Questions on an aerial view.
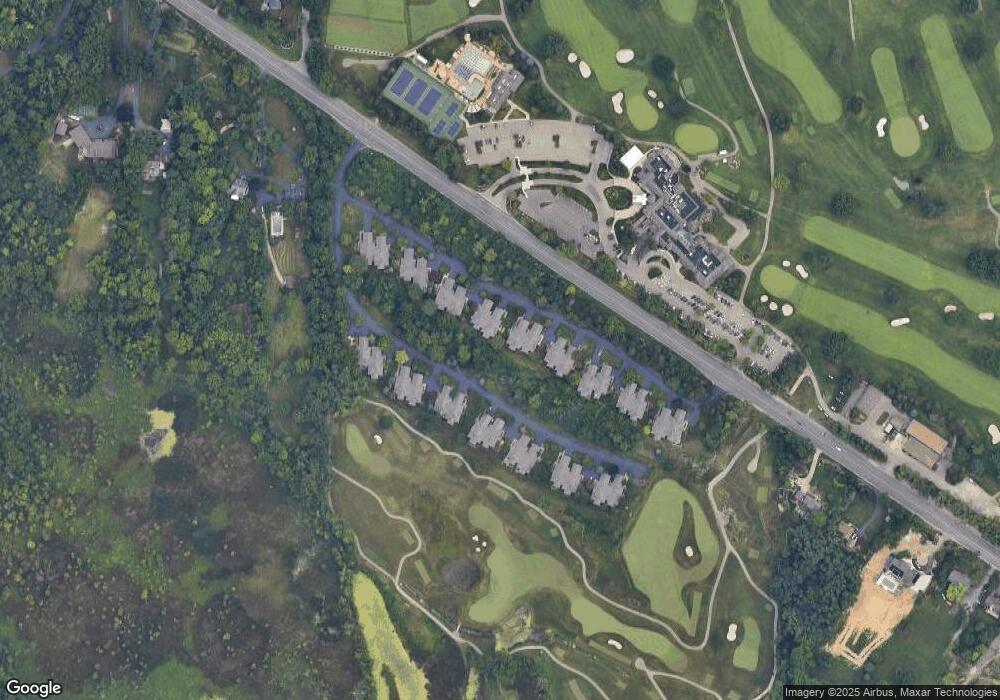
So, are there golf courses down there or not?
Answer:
Yes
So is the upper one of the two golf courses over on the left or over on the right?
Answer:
right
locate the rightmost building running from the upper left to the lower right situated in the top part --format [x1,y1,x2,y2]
[635,151,738,289]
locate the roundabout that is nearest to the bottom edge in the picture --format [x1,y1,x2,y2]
[641,249,682,290]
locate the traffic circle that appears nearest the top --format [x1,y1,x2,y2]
[599,177,645,219]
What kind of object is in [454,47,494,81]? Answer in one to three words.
swimming pool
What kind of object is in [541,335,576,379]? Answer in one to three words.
building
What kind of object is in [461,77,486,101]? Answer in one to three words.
swimming pool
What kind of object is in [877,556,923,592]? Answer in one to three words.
house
